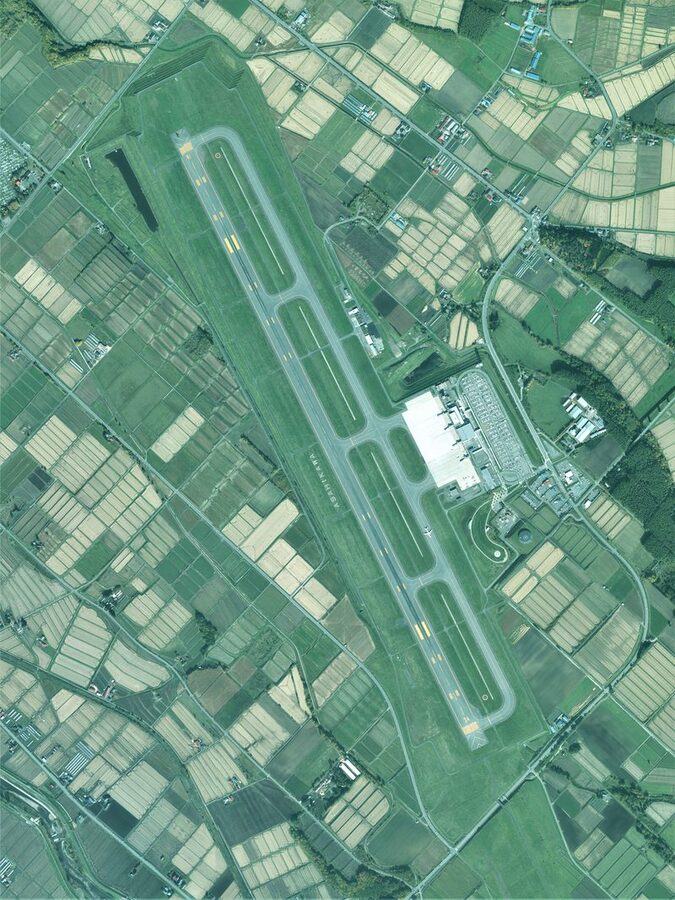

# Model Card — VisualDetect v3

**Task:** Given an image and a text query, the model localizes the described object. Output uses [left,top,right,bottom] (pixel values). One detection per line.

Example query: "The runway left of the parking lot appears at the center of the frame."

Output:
[171,127,485,751]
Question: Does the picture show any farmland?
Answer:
Yes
